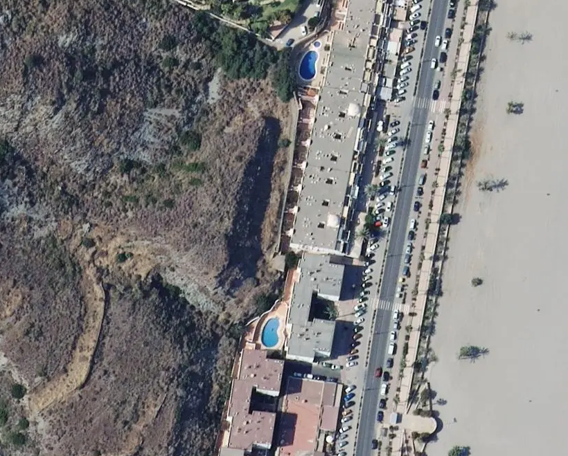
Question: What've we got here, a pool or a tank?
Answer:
pool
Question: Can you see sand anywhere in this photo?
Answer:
Yes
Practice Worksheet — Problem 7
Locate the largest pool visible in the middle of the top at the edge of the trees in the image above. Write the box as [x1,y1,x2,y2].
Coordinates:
[299,50,319,80]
